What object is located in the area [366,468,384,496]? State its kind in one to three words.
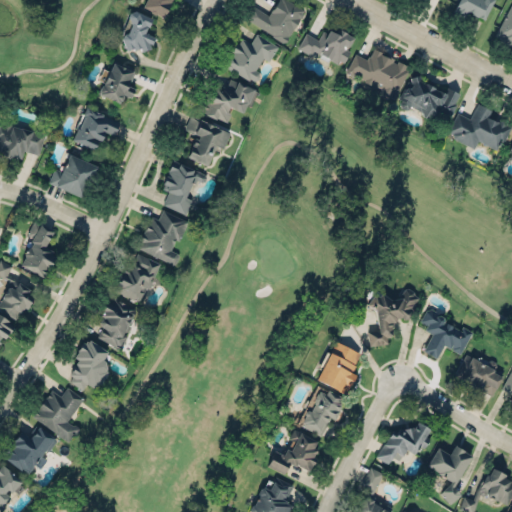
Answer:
house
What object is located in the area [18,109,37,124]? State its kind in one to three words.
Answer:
swimming pool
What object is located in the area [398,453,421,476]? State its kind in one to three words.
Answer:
swimming pool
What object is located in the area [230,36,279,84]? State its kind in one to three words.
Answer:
house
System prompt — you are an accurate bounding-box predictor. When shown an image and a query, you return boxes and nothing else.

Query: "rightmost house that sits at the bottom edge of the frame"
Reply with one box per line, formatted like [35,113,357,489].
[480,468,512,504]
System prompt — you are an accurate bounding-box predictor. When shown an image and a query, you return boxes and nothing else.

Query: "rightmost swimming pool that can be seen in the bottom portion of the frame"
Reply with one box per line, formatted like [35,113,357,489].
[420,293,450,323]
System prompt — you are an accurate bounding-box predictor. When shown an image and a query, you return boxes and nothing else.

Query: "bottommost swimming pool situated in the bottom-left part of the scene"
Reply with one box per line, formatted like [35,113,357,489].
[8,489,30,512]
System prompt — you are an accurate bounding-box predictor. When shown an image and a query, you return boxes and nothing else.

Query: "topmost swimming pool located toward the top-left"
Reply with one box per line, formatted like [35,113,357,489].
[90,62,106,84]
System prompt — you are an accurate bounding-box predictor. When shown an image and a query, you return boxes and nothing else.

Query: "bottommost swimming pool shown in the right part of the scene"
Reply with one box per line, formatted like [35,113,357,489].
[381,482,402,504]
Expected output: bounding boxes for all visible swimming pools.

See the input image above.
[258,62,281,85]
[381,482,402,504]
[110,358,128,378]
[276,428,288,446]
[193,177,214,202]
[304,58,332,76]
[51,142,66,165]
[8,232,22,258]
[18,109,37,124]
[90,62,106,84]
[8,489,30,512]
[148,286,166,306]
[398,453,421,476]
[290,382,312,412]
[420,293,450,323]
[63,106,81,138]
[36,453,70,486]
[468,147,492,166]
[400,112,424,128]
